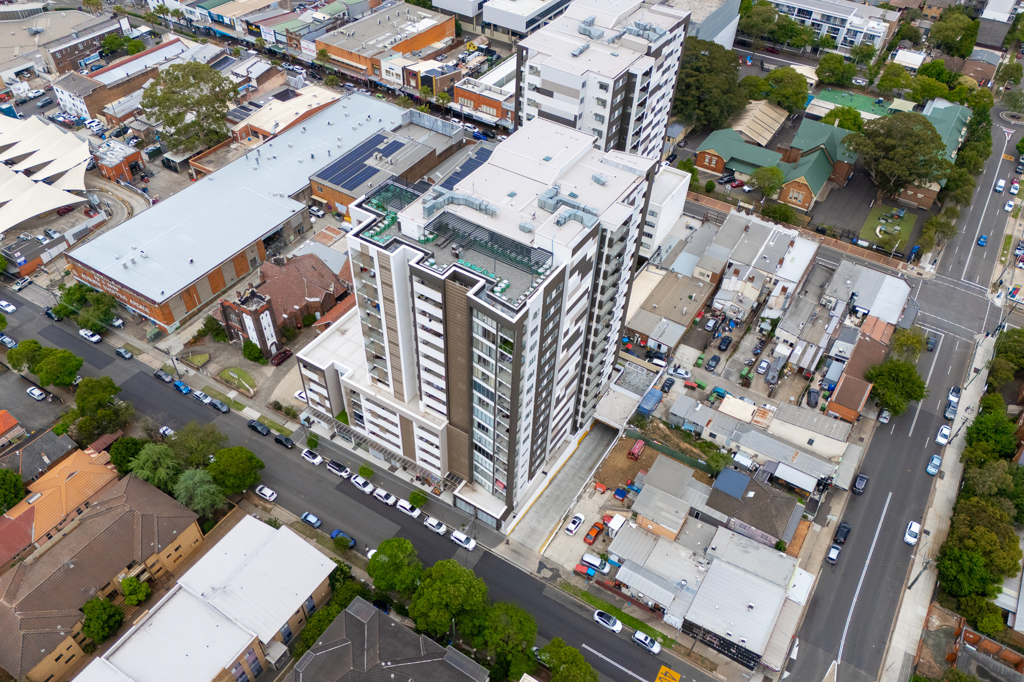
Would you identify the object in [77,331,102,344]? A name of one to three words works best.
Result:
vehicle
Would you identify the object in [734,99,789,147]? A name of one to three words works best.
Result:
building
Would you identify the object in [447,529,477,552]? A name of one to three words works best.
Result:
car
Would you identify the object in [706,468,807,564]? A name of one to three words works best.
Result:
house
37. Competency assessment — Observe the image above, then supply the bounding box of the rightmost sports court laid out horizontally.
[818,86,891,108]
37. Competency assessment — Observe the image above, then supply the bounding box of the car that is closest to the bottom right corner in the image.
[903,520,922,547]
